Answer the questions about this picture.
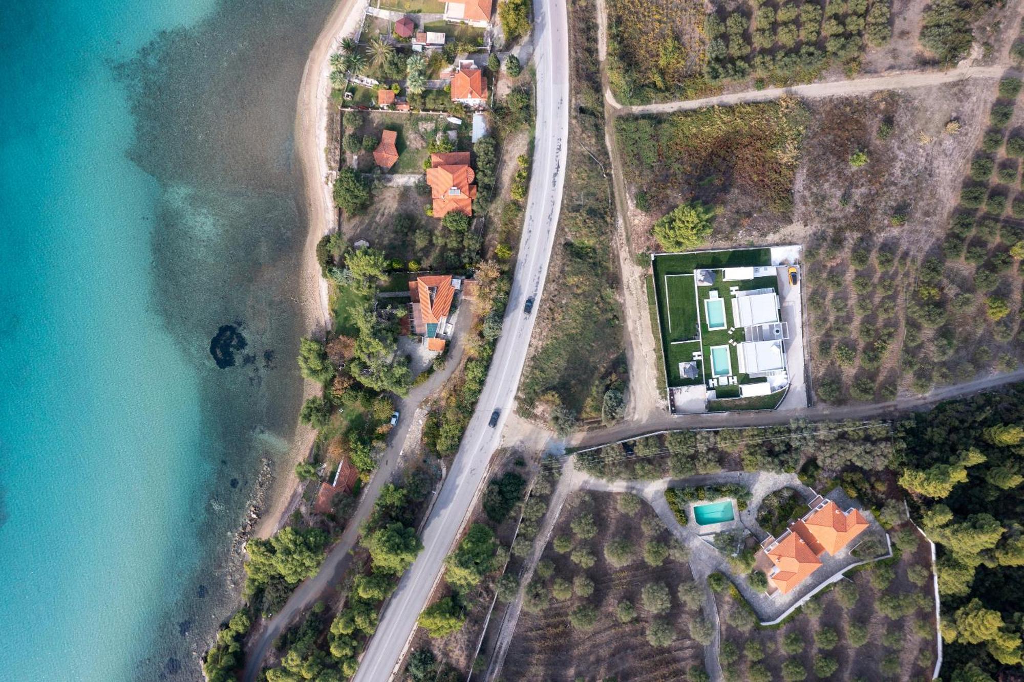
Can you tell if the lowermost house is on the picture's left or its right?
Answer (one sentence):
It is on the right.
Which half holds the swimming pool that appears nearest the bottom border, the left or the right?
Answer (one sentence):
The swimming pool that appears nearest the bottom border is on the right side of the image.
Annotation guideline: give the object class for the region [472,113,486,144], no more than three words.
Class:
shed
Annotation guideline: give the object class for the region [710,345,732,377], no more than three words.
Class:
swimming pool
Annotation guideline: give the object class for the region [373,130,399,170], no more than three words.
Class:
building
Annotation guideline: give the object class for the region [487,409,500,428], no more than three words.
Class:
vehicle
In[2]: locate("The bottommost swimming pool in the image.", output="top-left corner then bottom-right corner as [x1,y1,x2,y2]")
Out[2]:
[693,498,736,527]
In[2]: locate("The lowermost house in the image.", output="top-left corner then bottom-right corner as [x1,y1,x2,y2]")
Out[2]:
[759,495,870,599]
